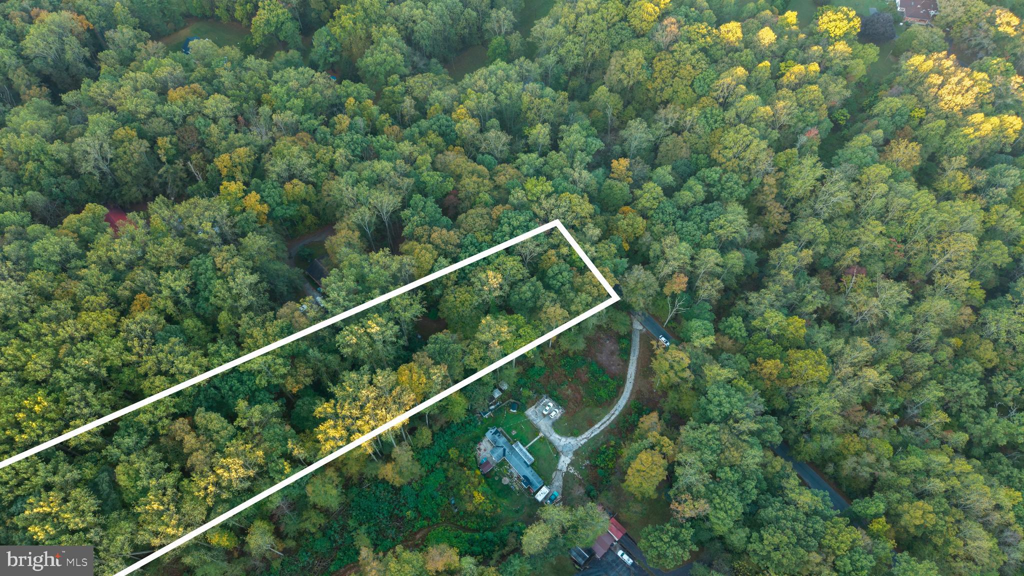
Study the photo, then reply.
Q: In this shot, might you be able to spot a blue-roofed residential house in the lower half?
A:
Yes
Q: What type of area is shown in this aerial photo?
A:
forest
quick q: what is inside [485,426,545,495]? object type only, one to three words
house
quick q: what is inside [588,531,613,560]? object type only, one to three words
house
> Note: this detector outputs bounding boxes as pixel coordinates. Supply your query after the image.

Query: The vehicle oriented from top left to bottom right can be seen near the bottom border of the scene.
[617,549,634,567]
